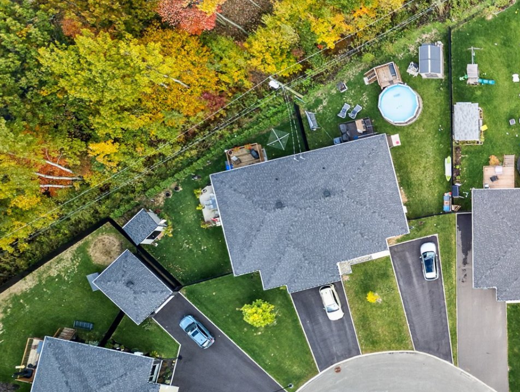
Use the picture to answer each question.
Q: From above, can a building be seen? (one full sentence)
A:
Yes, looking at the shot, I can spot a building.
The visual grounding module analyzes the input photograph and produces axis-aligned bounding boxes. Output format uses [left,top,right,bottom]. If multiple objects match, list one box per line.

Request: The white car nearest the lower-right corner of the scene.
[420,241,439,280]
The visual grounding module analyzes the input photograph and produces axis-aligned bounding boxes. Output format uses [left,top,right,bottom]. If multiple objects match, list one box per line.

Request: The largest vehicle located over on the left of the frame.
[180,315,215,349]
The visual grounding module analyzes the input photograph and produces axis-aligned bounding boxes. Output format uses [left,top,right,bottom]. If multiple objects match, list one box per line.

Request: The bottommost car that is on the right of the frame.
[318,284,343,321]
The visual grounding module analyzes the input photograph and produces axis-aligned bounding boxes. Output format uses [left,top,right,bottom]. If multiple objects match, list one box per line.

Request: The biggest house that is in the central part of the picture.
[210,133,408,293]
